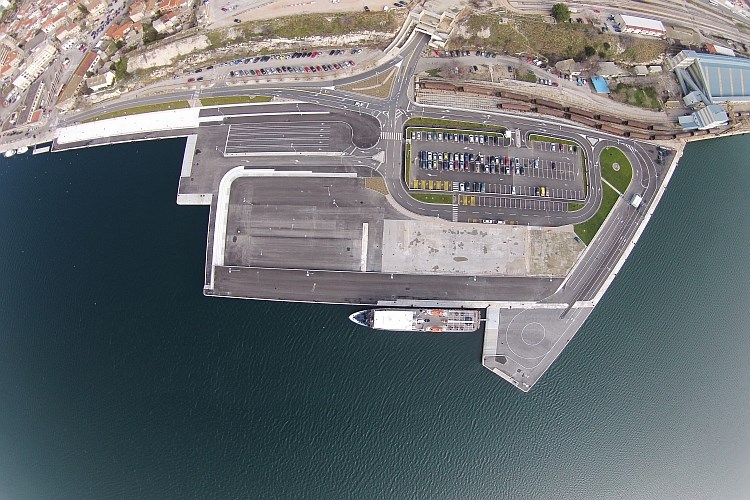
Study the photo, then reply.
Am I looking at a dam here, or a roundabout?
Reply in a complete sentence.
I can see a roundabout in this picture.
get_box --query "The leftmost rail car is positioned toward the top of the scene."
[423,78,458,91]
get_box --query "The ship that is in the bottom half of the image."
[349,307,482,332]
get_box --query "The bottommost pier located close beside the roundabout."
[483,288,593,391]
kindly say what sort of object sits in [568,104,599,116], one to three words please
rail car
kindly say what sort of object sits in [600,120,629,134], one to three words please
rail car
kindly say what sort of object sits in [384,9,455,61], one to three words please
overpass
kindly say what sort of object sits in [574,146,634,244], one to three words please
roundabout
